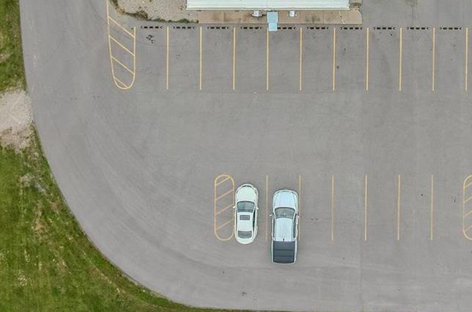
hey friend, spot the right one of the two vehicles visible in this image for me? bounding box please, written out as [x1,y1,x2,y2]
[269,191,299,266]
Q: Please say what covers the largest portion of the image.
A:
paved ground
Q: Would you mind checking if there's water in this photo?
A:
No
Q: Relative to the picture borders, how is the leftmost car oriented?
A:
from top to bottom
